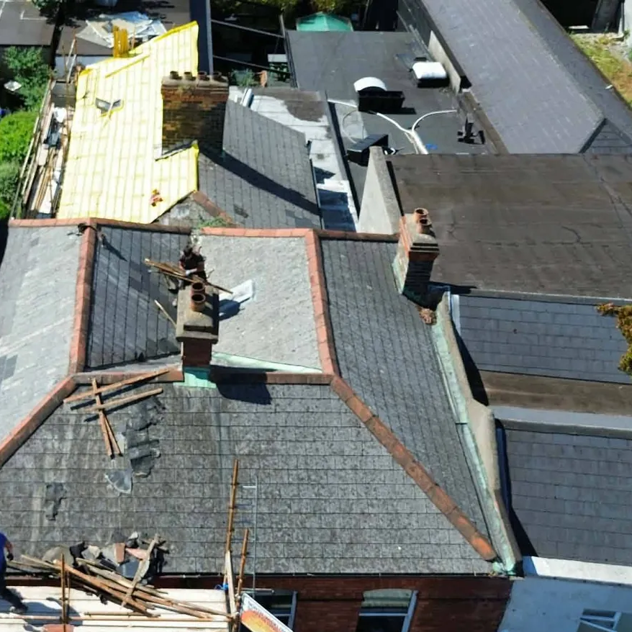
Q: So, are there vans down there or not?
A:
No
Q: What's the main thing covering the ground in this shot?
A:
buildings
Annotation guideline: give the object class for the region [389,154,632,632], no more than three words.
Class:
house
